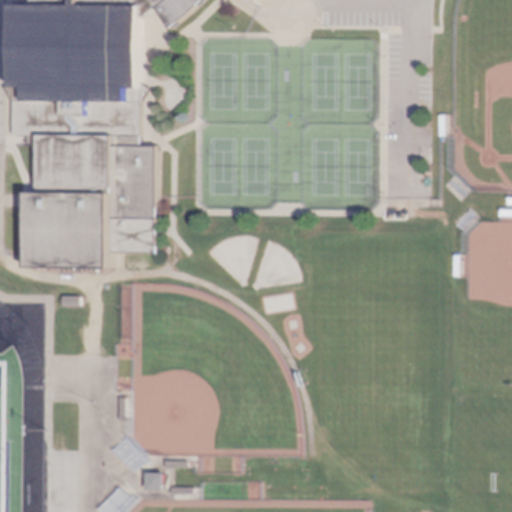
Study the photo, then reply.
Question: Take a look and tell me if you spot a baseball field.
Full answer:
Yes, the image includes a baseball field.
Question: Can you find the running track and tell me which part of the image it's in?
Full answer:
The running track is in the bottom left part of the image.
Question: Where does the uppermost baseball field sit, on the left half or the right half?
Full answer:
The uppermost baseball field appears in the right half of the scene.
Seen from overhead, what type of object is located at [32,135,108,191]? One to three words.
building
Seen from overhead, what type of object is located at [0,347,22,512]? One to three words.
sports field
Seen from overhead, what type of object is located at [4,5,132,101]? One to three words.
building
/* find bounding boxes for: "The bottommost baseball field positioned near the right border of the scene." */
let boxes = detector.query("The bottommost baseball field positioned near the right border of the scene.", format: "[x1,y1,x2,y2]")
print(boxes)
[462,221,512,308]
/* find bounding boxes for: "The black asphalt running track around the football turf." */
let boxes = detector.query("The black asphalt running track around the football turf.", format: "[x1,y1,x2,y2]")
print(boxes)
[0,304,48,512]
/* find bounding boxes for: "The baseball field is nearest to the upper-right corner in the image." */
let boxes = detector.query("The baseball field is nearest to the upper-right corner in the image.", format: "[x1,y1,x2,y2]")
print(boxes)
[448,62,512,190]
